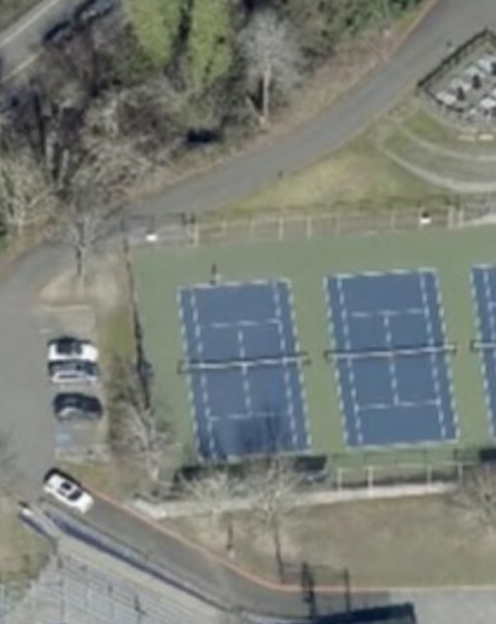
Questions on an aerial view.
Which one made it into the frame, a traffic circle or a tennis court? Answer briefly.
tennis court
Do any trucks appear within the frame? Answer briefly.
No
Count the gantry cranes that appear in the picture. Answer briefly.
0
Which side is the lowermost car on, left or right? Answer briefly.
left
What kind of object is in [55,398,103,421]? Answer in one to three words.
car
